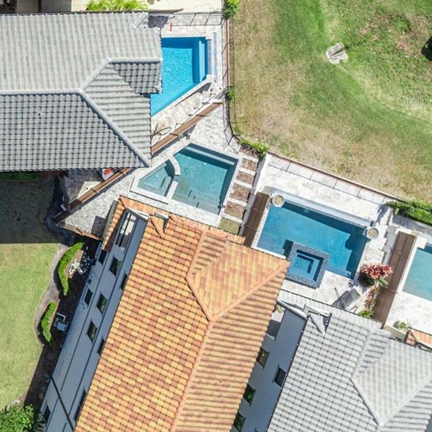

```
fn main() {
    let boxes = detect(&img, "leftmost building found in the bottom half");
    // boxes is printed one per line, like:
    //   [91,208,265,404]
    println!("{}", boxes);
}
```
[34,194,291,432]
